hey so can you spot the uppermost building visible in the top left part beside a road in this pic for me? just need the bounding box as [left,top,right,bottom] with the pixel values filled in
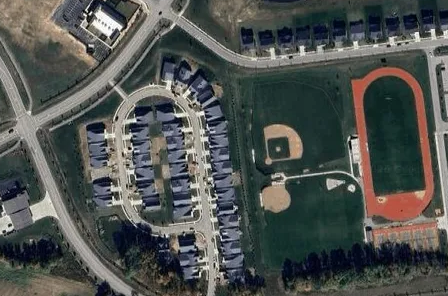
[90,0,136,38]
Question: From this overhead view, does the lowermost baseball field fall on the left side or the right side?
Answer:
right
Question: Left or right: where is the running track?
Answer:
right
